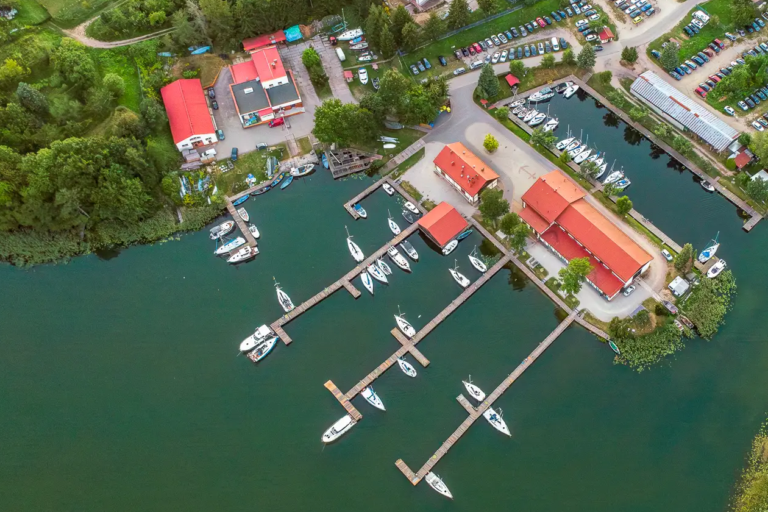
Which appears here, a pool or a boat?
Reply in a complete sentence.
Of the two, only a boat appears.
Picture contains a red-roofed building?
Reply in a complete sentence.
Yes, there's a red-roofed building down there.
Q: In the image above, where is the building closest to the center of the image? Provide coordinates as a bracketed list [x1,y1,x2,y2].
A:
[418,202,470,248]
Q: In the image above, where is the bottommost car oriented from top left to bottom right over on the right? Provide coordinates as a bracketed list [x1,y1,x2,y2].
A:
[661,247,674,263]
